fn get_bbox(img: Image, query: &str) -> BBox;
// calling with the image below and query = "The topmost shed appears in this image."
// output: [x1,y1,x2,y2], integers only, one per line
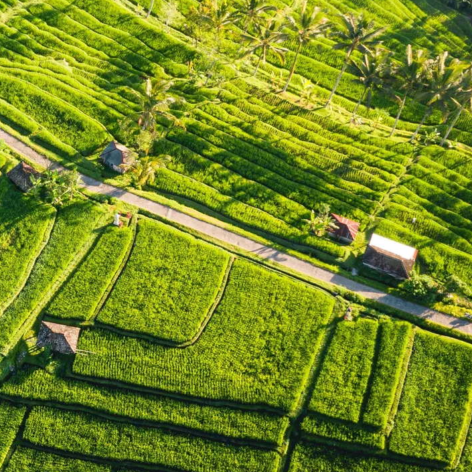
[100,143,134,178]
